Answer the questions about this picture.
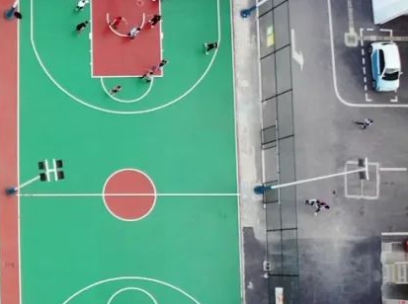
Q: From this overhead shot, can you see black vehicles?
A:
No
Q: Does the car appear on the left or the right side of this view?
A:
right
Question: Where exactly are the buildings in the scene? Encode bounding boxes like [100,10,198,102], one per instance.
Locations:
[381,230,408,304]
[374,0,408,24]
